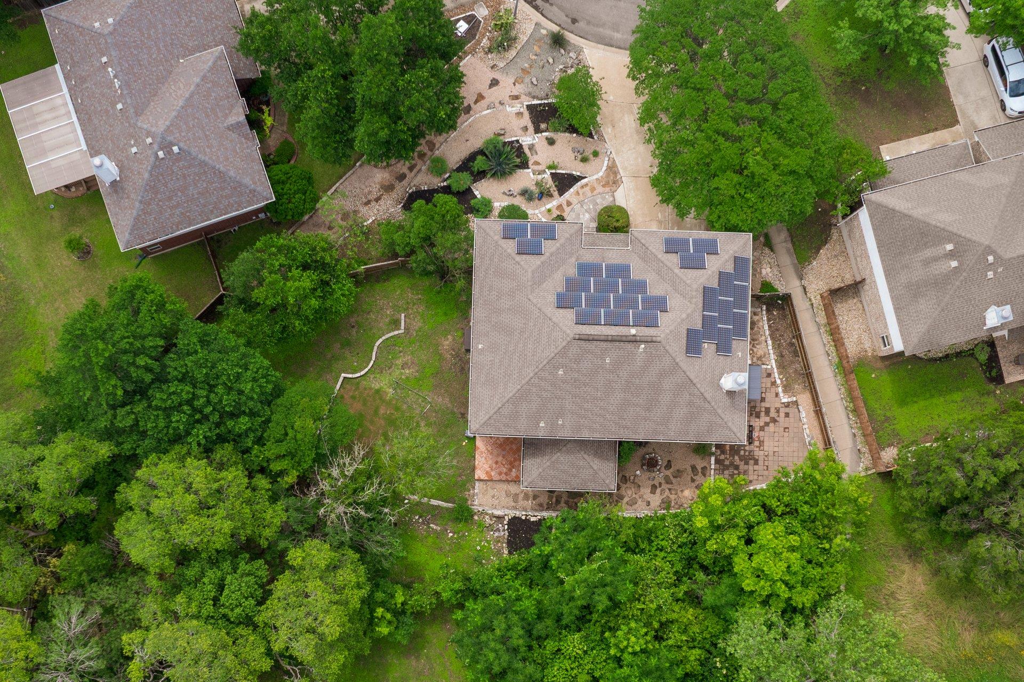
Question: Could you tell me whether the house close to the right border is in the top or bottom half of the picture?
top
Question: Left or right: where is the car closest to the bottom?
right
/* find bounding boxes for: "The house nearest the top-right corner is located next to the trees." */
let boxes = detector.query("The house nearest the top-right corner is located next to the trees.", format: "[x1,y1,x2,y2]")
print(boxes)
[842,115,1024,356]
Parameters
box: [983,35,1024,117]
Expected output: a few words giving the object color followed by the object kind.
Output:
white car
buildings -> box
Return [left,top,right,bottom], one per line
[467,216,754,493]
[842,115,1024,356]
[40,0,277,260]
